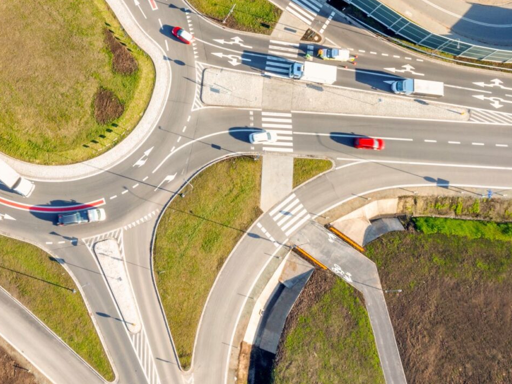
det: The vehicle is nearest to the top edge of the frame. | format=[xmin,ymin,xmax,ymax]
[171,26,194,46]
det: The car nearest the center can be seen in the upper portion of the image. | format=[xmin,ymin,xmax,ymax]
[248,130,278,144]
